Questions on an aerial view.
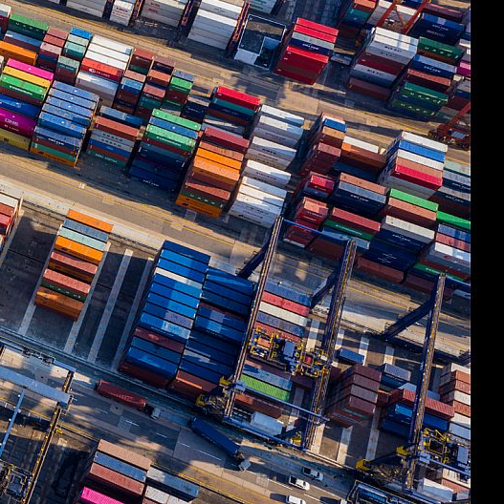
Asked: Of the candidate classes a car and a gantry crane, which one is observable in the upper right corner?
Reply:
gantry crane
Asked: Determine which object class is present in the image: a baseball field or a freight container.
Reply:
freight container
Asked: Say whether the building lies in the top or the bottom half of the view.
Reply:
top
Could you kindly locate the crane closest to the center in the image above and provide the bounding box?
[195,213,362,452]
